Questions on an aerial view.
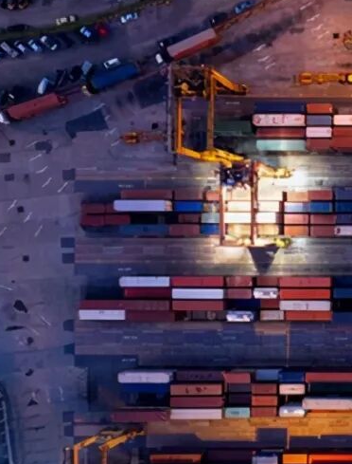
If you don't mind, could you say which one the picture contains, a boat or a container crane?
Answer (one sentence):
There is a container crane in the scene.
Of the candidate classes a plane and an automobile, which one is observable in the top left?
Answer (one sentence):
Looking in the top left, you will find an automobile.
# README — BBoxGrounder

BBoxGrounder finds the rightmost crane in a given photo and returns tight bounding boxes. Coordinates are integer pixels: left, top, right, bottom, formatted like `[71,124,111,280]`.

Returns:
[218,153,291,251]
